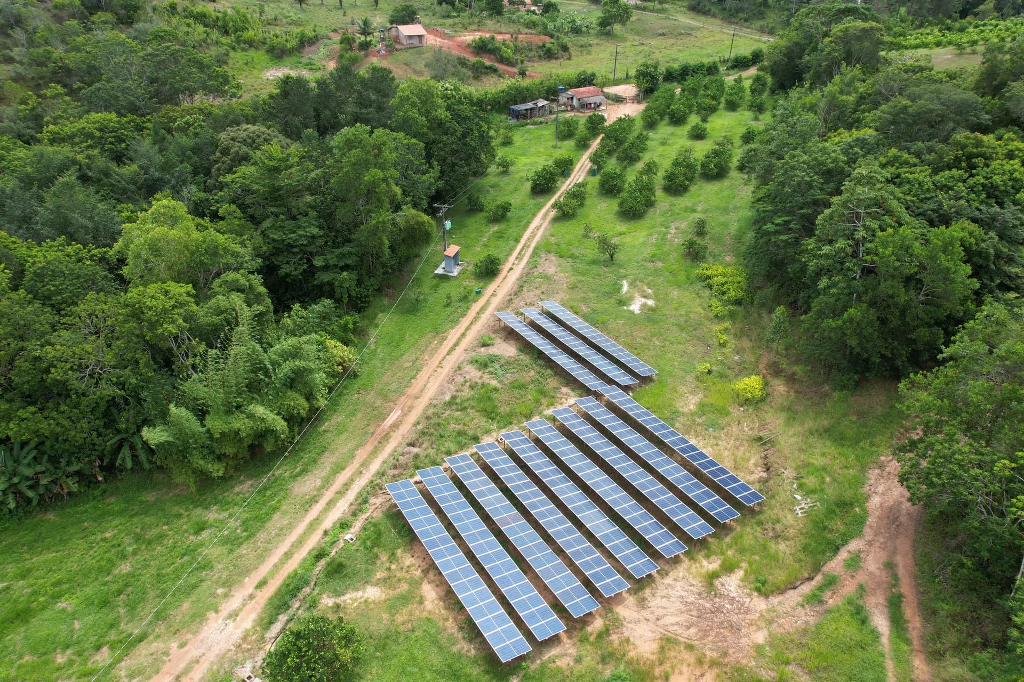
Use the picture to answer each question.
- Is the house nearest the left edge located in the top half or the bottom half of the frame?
top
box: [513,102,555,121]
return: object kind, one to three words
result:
shed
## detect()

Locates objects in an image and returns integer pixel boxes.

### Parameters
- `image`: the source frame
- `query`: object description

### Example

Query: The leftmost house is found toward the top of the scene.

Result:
[396,22,430,50]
